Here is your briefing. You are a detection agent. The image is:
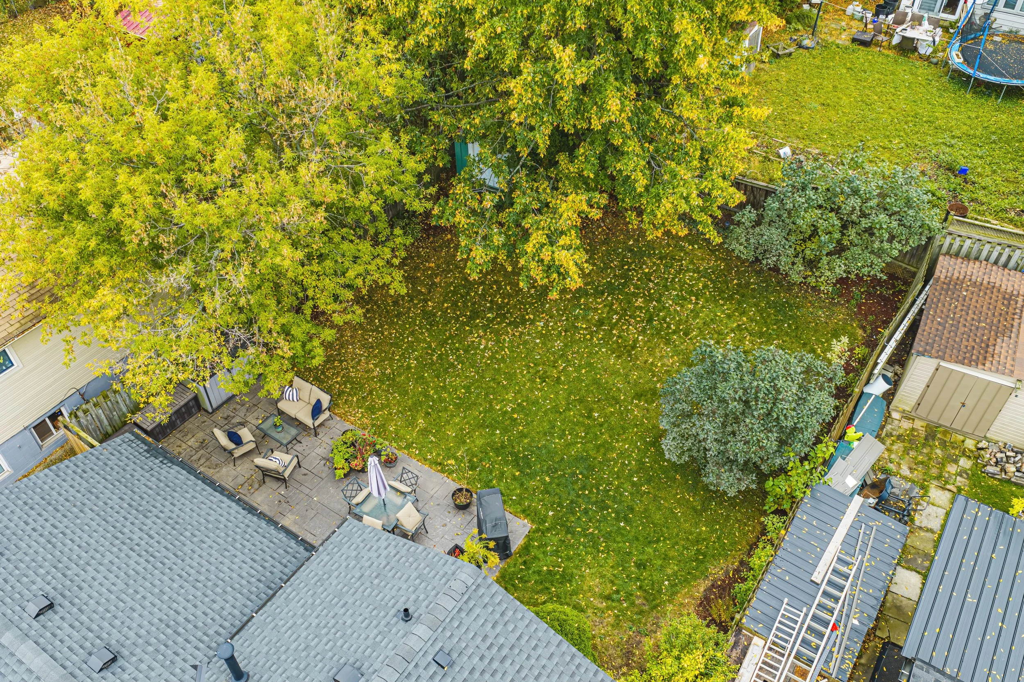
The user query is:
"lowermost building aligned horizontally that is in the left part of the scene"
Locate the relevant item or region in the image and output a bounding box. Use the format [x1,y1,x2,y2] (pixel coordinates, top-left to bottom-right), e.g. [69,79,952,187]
[0,425,622,682]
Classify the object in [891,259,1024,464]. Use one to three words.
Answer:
shed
